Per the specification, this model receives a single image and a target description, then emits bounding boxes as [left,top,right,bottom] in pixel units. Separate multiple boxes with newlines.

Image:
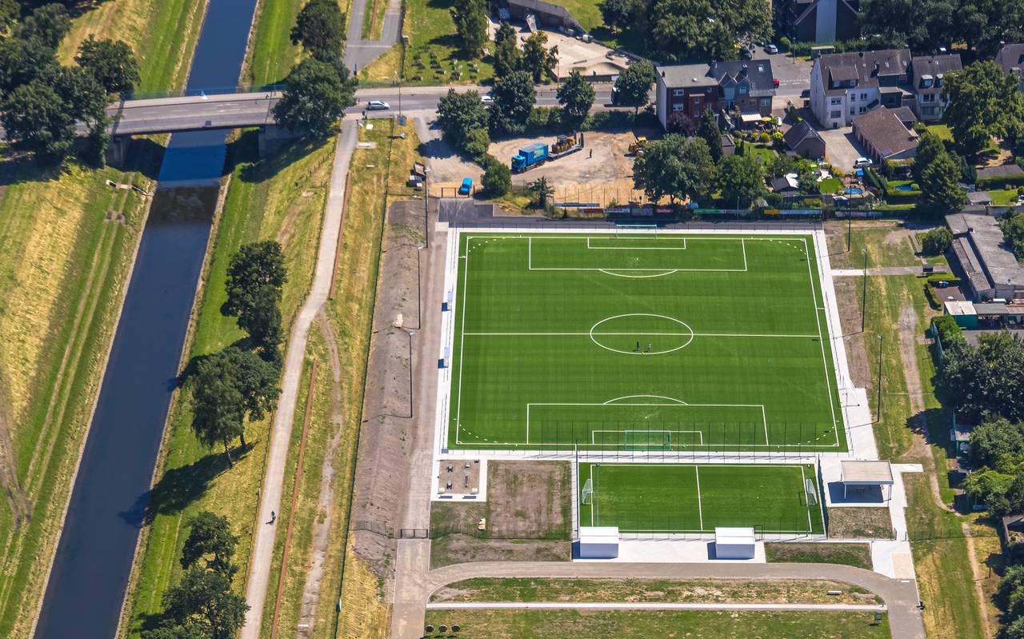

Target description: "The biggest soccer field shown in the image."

[448,232,848,450]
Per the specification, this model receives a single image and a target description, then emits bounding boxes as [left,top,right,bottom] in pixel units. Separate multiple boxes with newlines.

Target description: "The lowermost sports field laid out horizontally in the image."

[579,463,825,535]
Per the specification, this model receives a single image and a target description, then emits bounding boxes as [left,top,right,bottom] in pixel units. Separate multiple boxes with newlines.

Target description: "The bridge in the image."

[72,82,295,164]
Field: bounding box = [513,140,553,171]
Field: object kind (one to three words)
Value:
truck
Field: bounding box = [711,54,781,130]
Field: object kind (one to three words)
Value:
house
